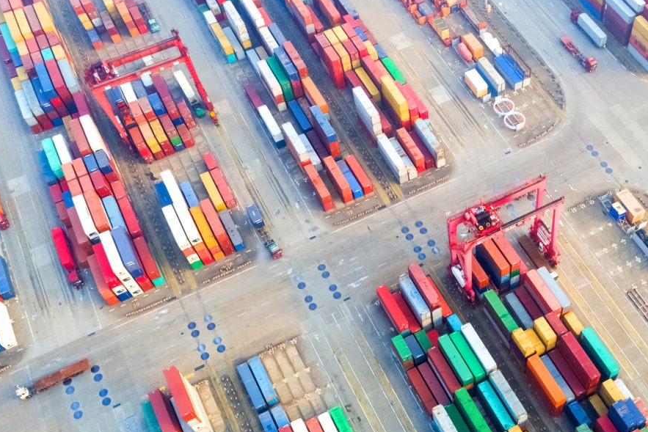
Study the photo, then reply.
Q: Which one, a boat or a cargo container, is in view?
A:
cargo container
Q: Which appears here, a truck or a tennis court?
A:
truck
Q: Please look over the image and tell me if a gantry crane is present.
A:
Yes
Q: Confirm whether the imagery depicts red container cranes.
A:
Yes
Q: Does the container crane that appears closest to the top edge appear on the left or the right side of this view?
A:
left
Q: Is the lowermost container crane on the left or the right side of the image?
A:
right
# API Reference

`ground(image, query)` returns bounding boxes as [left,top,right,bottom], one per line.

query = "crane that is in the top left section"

[76,27,222,160]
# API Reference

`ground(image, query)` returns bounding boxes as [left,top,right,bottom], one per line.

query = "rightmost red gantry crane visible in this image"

[442,168,565,308]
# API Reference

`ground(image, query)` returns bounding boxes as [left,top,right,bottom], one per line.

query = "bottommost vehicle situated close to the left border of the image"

[17,360,94,404]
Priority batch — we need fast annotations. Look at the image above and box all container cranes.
[76,27,222,160]
[442,168,565,308]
